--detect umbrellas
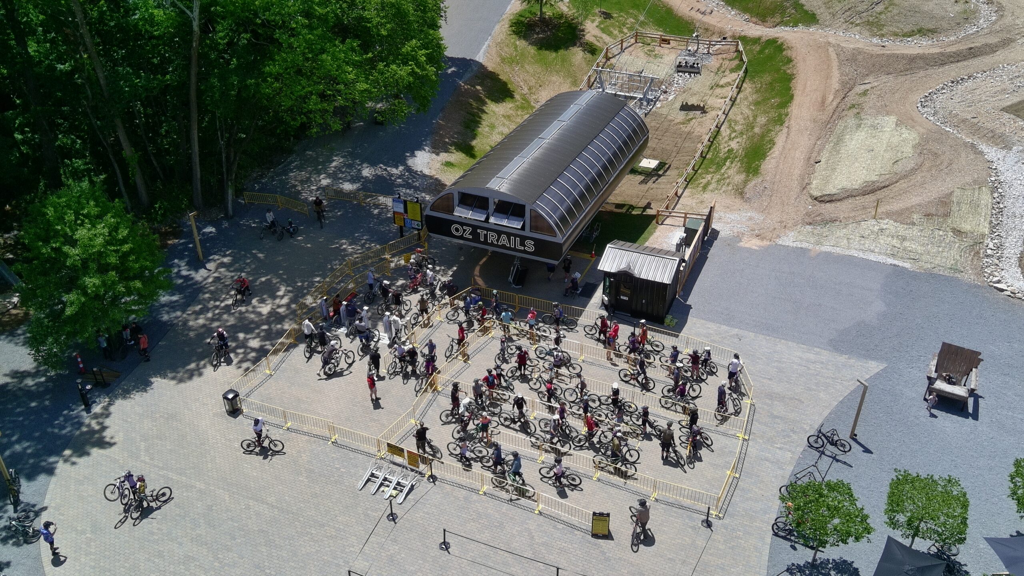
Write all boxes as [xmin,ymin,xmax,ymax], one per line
[982,537,1024,576]
[867,536,946,576]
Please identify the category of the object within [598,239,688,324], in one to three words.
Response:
shed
